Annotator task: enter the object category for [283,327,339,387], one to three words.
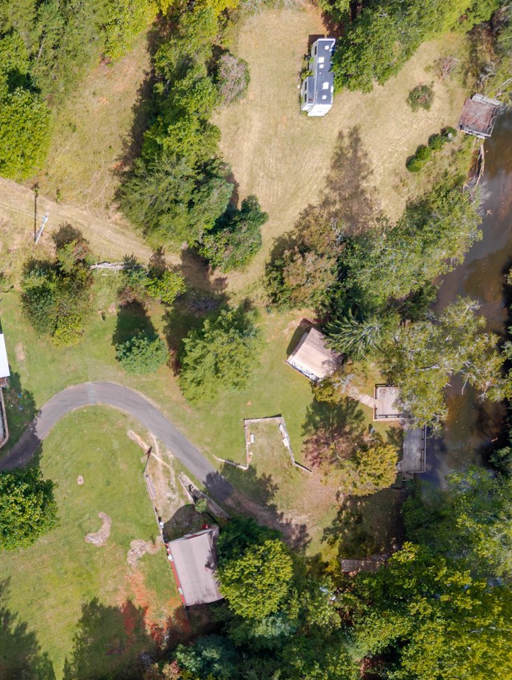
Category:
building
